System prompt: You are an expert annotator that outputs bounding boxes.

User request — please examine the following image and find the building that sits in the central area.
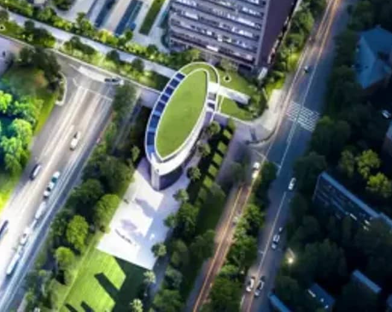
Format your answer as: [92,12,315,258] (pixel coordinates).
[137,61,218,190]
